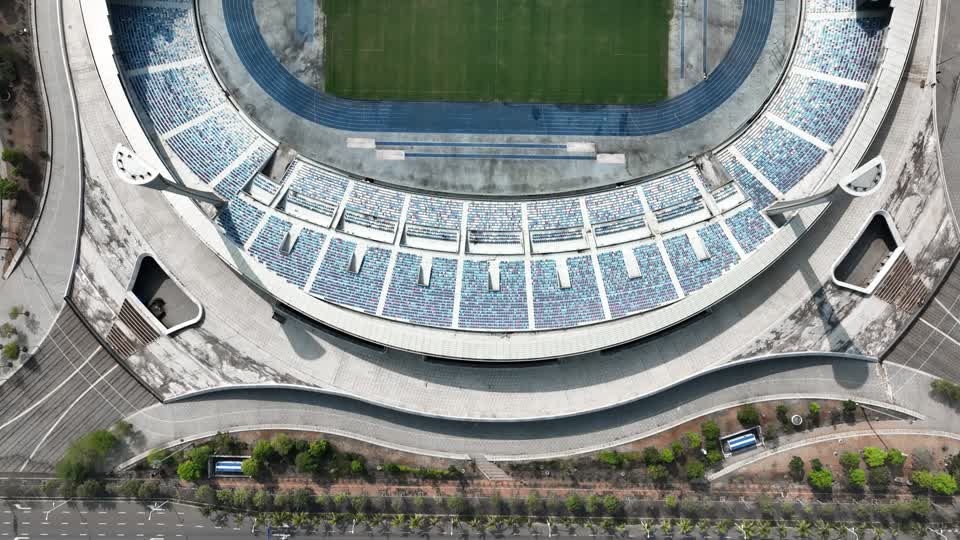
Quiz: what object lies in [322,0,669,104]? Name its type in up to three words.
soccer field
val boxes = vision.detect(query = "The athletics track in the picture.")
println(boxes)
[222,0,774,136]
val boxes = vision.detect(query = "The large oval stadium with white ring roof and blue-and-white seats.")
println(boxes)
[78,0,922,361]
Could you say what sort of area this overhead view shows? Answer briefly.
sports ground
